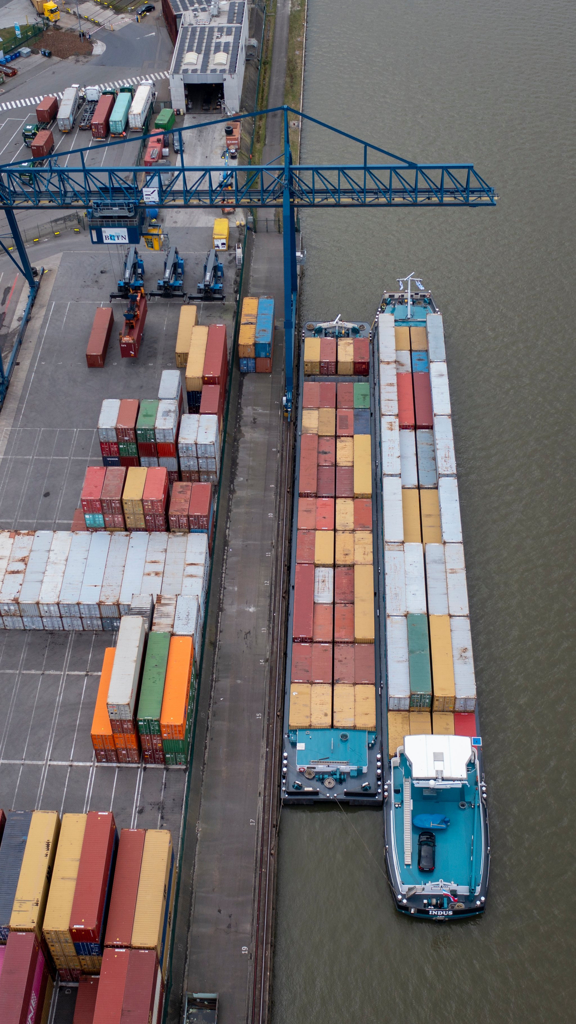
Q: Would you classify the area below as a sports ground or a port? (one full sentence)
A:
What you see here is a port.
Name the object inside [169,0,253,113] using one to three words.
building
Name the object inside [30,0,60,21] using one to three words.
truck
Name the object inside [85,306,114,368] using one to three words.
shipping container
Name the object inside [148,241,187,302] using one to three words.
work vehicle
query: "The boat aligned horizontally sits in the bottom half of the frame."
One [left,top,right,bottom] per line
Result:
[412,813,451,829]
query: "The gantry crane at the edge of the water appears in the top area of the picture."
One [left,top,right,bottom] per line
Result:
[0,104,502,416]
